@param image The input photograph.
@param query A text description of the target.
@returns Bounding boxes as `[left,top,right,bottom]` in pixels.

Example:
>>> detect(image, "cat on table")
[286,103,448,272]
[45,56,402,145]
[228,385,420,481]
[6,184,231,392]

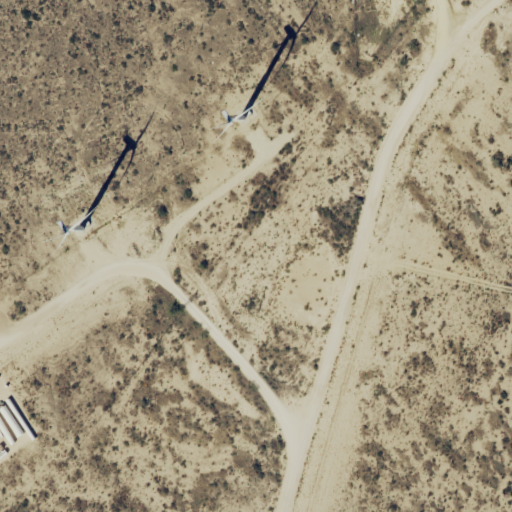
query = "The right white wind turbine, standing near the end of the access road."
[216,102,260,144]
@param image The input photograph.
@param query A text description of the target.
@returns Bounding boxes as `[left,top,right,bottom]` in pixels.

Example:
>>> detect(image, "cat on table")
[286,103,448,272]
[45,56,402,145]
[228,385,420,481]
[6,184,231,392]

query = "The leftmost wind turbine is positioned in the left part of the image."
[48,214,94,256]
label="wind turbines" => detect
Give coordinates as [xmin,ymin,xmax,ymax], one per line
[216,102,260,144]
[48,214,94,256]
